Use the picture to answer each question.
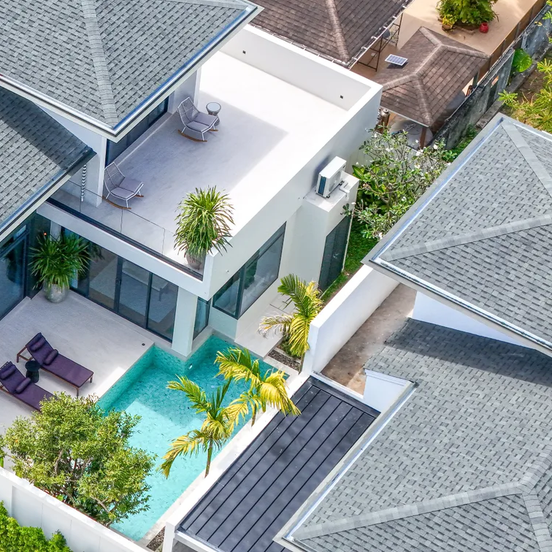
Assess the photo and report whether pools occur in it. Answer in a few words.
Yes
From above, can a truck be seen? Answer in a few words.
No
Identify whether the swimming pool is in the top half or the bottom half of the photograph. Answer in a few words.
bottom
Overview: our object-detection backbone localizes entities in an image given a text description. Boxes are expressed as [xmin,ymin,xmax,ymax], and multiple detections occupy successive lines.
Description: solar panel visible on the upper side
[384,51,409,68]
